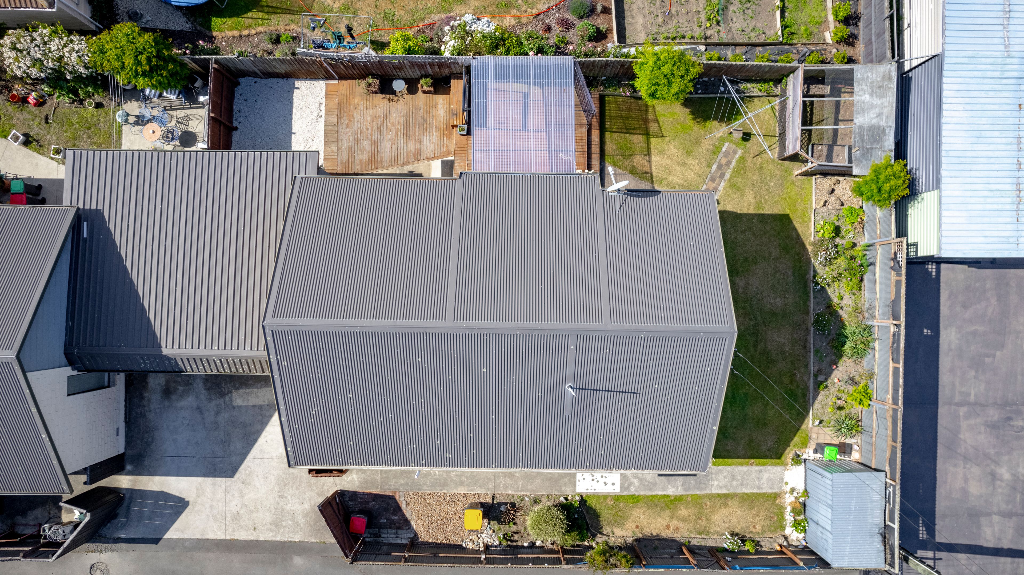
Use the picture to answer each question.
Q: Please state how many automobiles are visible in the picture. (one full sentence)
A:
Not a single automobile can be seen.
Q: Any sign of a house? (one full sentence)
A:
Yes, a house is visible in the scene.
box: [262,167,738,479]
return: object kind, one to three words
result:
house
